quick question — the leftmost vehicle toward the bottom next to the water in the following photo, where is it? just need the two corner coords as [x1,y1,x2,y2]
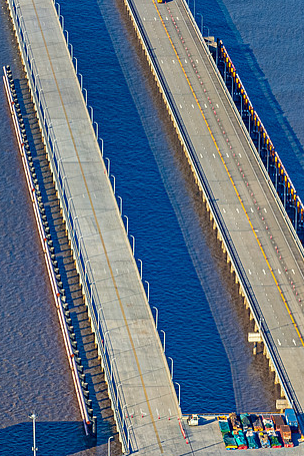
[187,411,200,426]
